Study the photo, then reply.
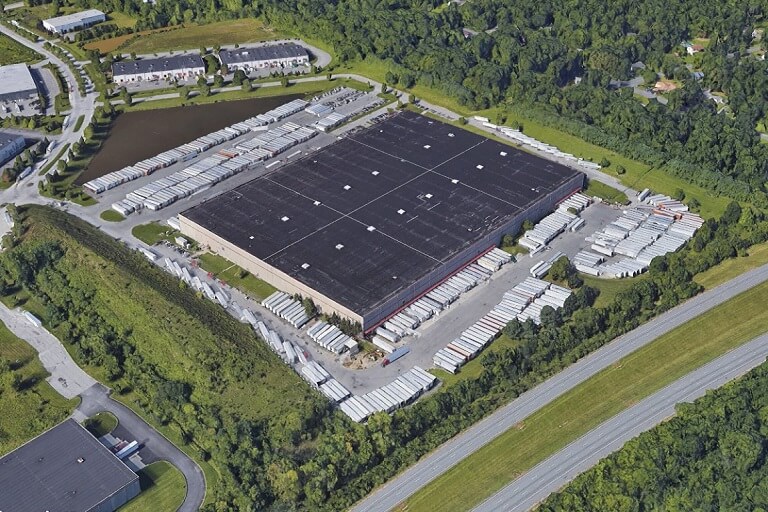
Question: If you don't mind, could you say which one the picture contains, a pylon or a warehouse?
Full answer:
I can see a warehouse in this picture.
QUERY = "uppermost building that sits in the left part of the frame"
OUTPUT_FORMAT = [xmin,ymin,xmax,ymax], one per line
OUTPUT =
[42,9,108,33]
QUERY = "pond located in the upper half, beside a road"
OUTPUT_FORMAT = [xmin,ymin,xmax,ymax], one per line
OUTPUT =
[77,90,320,190]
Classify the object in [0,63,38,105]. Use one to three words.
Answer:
building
